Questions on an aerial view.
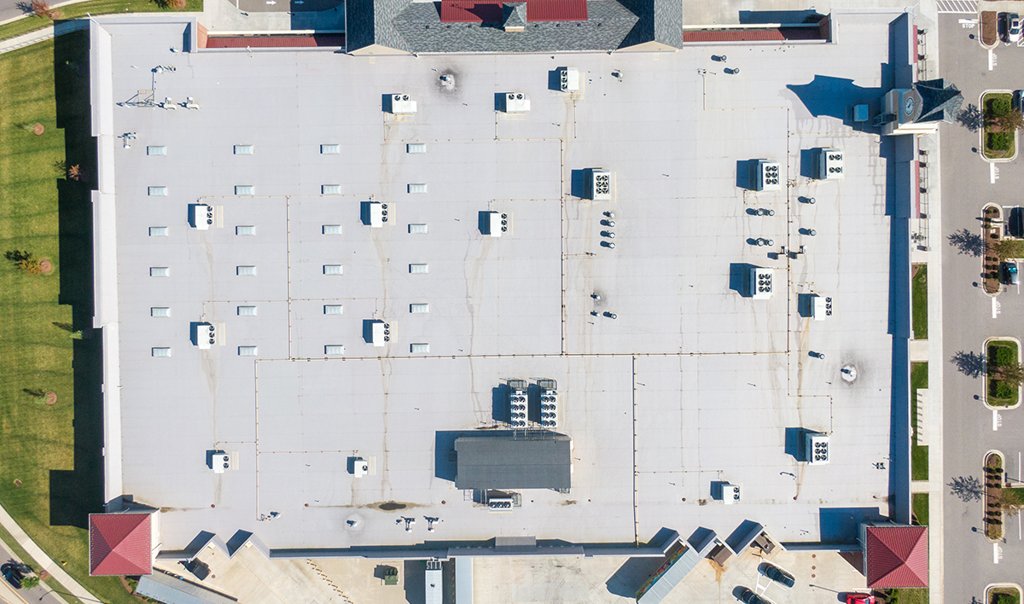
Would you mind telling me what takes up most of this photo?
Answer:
buildings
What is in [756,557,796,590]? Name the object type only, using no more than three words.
car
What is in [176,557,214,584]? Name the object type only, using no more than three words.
truck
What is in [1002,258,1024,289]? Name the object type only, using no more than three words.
car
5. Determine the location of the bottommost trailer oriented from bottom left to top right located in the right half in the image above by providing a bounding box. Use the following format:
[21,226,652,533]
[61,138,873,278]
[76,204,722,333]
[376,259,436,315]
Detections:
[609,541,702,604]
